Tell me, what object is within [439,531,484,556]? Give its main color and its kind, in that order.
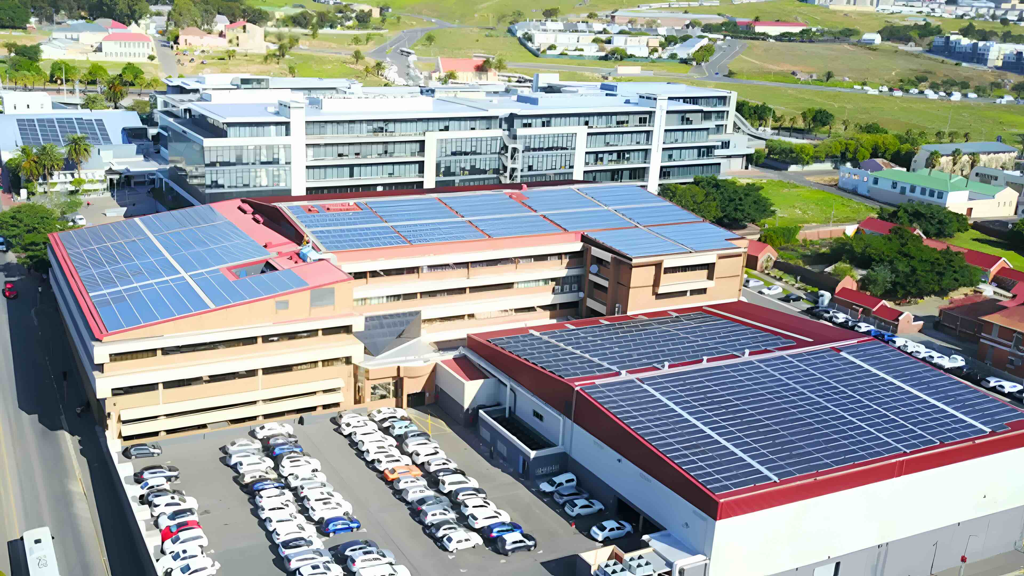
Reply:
white car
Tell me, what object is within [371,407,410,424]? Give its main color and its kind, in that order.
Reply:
white car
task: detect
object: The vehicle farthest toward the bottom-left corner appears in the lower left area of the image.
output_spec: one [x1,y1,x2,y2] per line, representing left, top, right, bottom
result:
[14,529,58,576]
